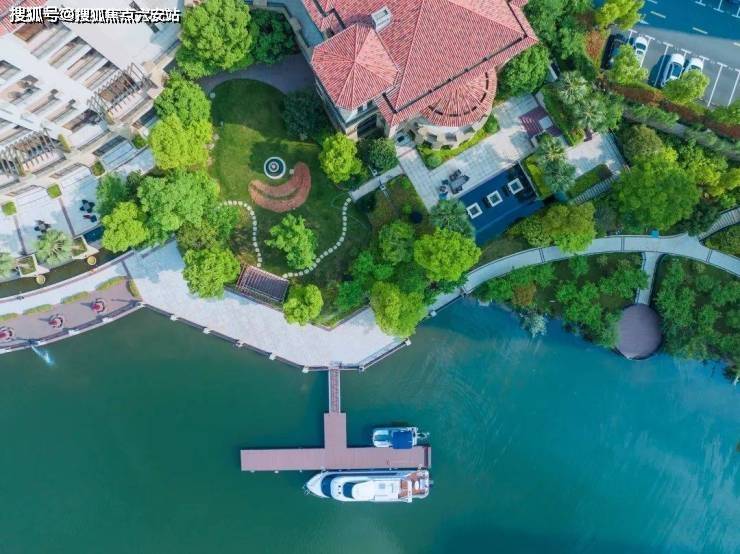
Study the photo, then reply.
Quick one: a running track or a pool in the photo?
pool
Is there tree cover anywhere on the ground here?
Yes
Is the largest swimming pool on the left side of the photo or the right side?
right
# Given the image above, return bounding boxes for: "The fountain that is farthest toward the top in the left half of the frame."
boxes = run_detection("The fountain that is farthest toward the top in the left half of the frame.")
[263,156,286,178]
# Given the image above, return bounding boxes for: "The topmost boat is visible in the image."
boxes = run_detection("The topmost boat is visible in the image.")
[373,428,427,449]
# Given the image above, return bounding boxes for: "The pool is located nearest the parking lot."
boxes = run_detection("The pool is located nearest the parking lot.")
[458,159,549,243]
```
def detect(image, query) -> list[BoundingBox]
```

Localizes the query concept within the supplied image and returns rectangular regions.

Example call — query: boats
[303,464,432,503]
[373,428,427,449]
